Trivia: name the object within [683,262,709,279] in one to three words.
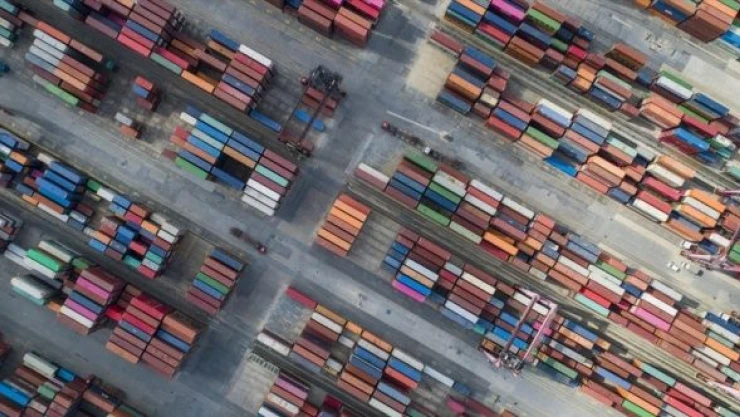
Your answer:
vehicle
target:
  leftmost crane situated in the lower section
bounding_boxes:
[486,283,561,377]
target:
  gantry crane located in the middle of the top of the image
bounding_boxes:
[278,58,348,156]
